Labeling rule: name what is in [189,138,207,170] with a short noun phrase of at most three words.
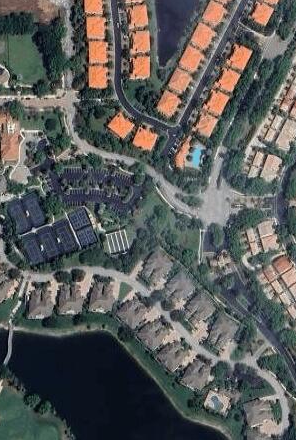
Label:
swimming pool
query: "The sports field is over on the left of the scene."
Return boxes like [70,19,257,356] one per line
[0,32,47,85]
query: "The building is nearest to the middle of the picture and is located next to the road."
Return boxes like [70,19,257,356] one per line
[135,251,176,290]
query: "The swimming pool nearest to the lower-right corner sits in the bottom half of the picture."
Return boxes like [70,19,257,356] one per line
[205,391,229,412]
